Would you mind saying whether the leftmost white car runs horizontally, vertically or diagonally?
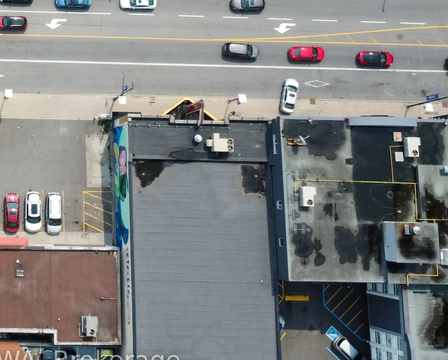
vertically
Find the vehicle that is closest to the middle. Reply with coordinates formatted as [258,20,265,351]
[279,77,300,114]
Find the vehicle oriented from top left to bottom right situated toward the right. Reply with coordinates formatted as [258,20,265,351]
[330,331,368,360]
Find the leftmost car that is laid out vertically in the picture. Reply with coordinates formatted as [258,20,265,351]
[4,193,21,232]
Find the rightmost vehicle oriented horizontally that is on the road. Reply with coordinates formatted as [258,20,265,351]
[355,50,394,67]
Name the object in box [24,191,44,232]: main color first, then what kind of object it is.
white car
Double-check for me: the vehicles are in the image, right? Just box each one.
[45,192,64,235]
[62,348,77,360]
[41,348,56,360]
[223,43,260,60]
[24,191,44,232]
[4,193,21,232]
[99,348,114,360]
[0,13,27,30]
[279,77,300,114]
[330,331,368,360]
[355,50,394,67]
[228,0,267,13]
[286,45,325,62]
[55,0,92,8]
[118,0,157,10]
